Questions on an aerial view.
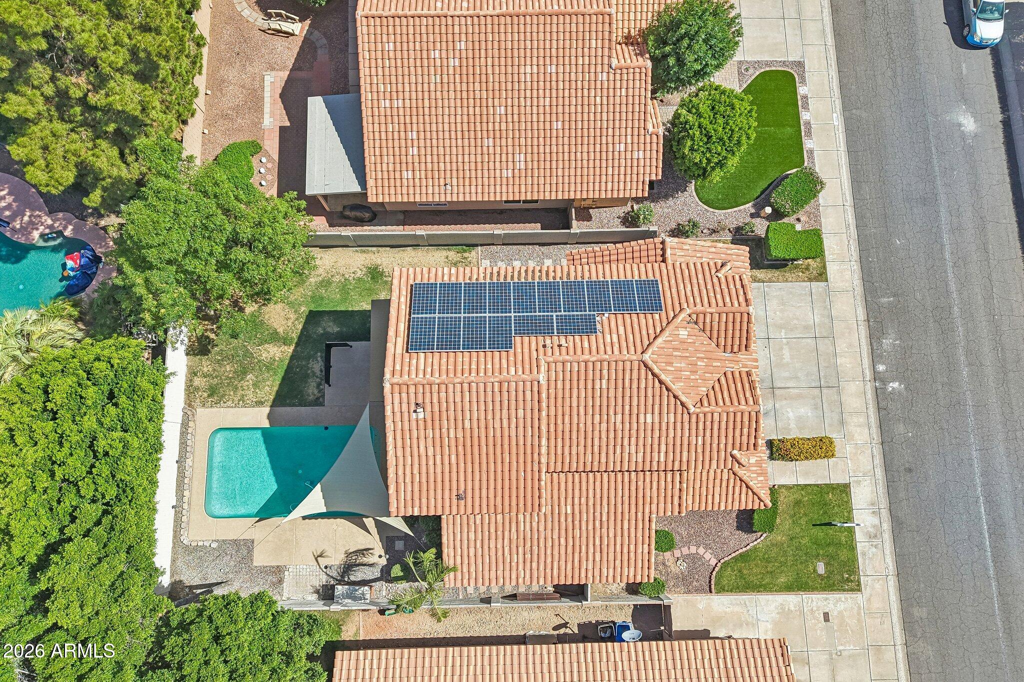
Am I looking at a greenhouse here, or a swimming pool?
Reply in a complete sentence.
I can see a swimming pool in this picture.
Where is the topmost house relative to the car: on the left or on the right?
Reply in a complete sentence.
The topmost house can be seen on the left of the car.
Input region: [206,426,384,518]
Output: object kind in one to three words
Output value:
swimming pool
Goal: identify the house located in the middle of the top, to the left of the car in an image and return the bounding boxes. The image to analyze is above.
[305,0,687,211]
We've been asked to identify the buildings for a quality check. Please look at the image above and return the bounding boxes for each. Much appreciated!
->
[330,636,797,682]
[305,0,687,211]
[371,236,774,587]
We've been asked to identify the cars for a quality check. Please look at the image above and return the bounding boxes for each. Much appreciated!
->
[956,0,1004,48]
